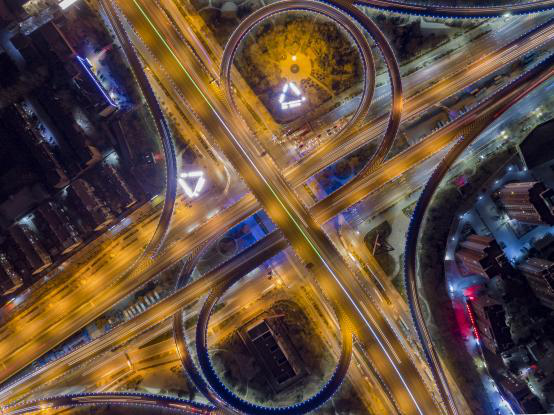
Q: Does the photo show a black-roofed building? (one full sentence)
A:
Yes, there's a black-roofed building here.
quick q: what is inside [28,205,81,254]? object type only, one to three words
building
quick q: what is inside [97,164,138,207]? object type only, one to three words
building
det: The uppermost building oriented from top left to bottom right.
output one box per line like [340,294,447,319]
[30,15,75,58]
